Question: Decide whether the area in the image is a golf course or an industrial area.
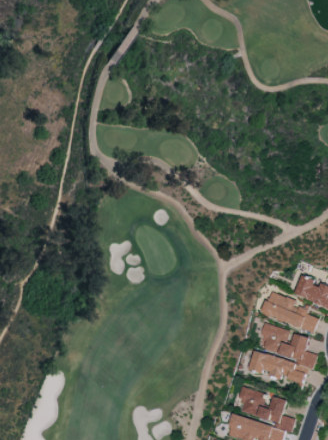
golf course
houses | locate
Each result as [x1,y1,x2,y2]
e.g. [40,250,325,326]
[228,414,286,440]
[259,322,319,368]
[298,270,328,302]
[260,290,320,332]
[238,386,297,431]
[248,348,310,387]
